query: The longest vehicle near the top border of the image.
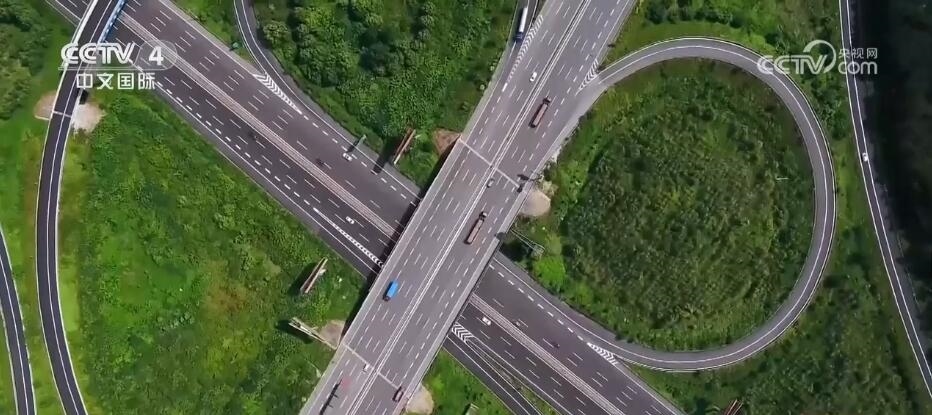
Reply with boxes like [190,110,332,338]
[513,5,528,43]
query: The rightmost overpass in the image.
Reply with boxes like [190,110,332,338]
[301,0,636,415]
